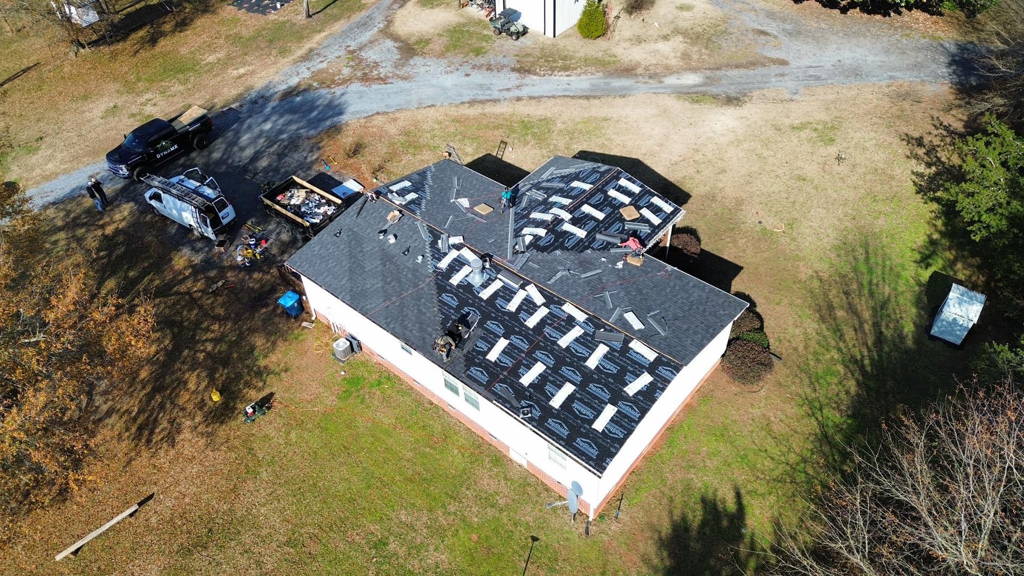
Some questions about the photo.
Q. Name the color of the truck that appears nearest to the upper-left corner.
black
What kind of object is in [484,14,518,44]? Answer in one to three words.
vehicle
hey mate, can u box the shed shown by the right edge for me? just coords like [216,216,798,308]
[929,282,983,345]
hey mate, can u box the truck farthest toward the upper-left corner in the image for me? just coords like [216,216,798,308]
[98,112,217,183]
